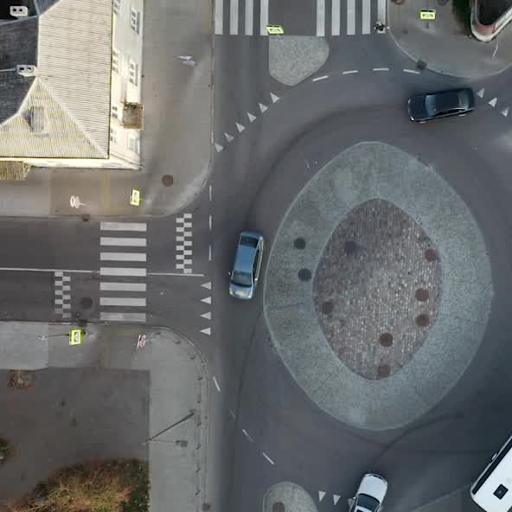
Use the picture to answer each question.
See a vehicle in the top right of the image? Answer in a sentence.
Yes, you'll find a vehicle in the top right of the image.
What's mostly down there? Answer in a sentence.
The largest share of the image is taken up by paved ground.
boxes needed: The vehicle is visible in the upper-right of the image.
[406,87,476,123]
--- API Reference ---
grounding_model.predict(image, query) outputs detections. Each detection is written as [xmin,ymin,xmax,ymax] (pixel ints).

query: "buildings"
[469,0,512,43]
[0,0,147,177]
